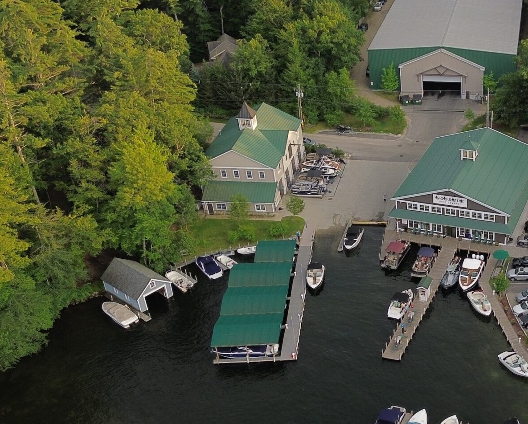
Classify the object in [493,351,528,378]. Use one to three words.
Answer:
boat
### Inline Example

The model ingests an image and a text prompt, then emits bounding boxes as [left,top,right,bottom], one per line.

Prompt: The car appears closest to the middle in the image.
[302,136,323,148]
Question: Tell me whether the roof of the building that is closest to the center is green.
Yes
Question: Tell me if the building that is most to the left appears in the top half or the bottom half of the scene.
bottom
